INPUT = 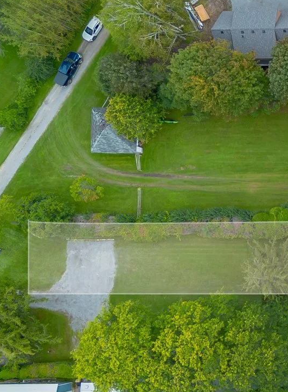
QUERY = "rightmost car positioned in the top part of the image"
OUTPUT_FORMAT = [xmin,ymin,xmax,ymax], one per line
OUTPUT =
[84,15,105,42]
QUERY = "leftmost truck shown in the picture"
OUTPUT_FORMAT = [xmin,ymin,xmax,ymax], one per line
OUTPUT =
[55,51,84,88]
